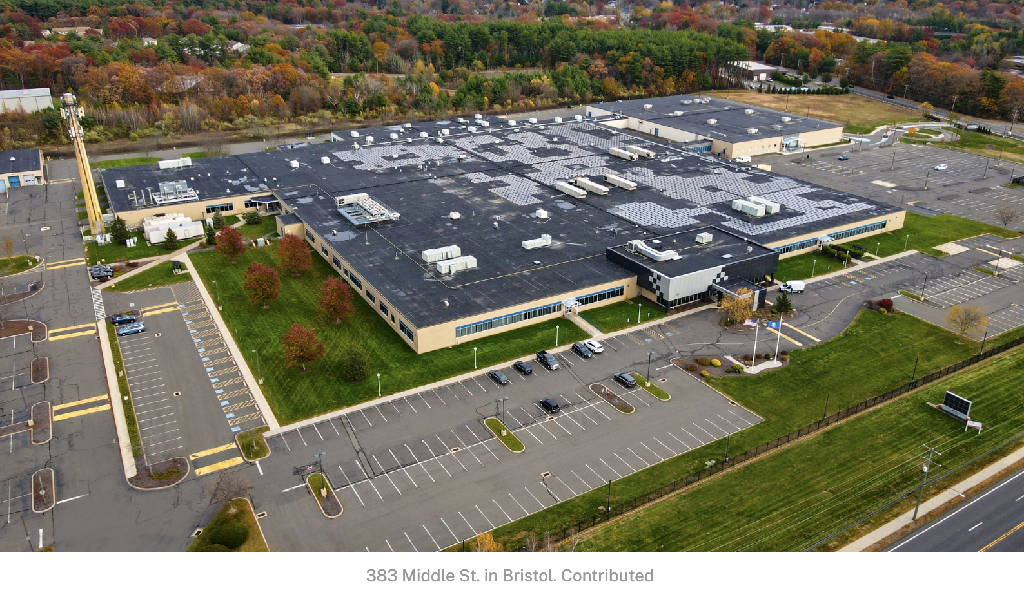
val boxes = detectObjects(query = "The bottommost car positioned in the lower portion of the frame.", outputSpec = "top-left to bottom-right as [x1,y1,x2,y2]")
[540,396,561,412]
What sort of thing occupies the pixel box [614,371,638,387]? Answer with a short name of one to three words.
car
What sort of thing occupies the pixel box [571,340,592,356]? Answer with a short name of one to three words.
car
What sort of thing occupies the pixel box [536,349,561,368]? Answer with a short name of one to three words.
vehicle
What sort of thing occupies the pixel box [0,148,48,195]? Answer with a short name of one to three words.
building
